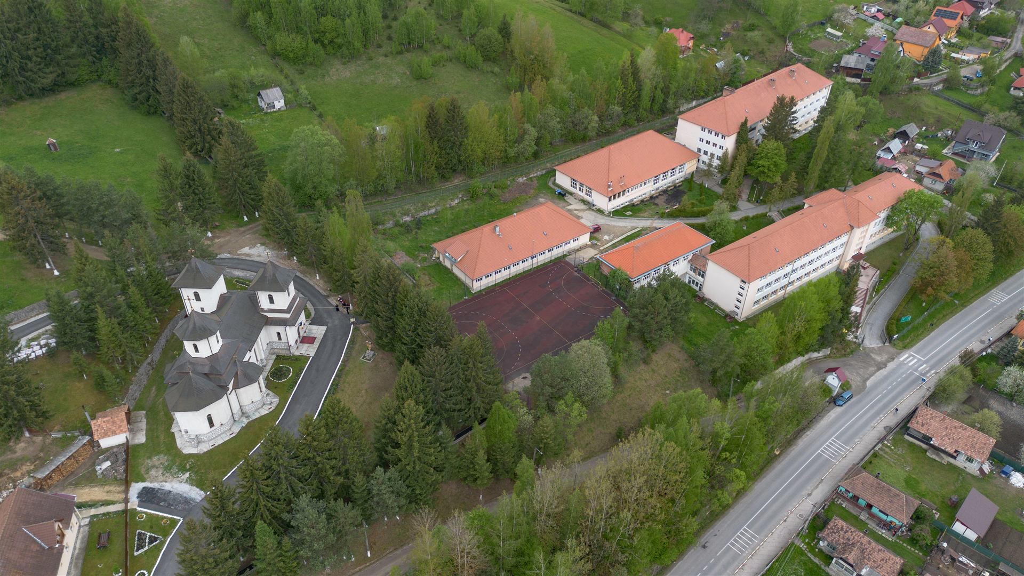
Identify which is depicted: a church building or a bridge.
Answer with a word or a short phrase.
church building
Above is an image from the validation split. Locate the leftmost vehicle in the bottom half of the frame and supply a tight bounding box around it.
[832,389,857,408]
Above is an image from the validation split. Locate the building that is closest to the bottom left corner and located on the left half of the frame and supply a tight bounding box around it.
[0,492,83,576]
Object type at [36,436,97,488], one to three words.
shed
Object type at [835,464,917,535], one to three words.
house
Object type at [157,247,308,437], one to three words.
church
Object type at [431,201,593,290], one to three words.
building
